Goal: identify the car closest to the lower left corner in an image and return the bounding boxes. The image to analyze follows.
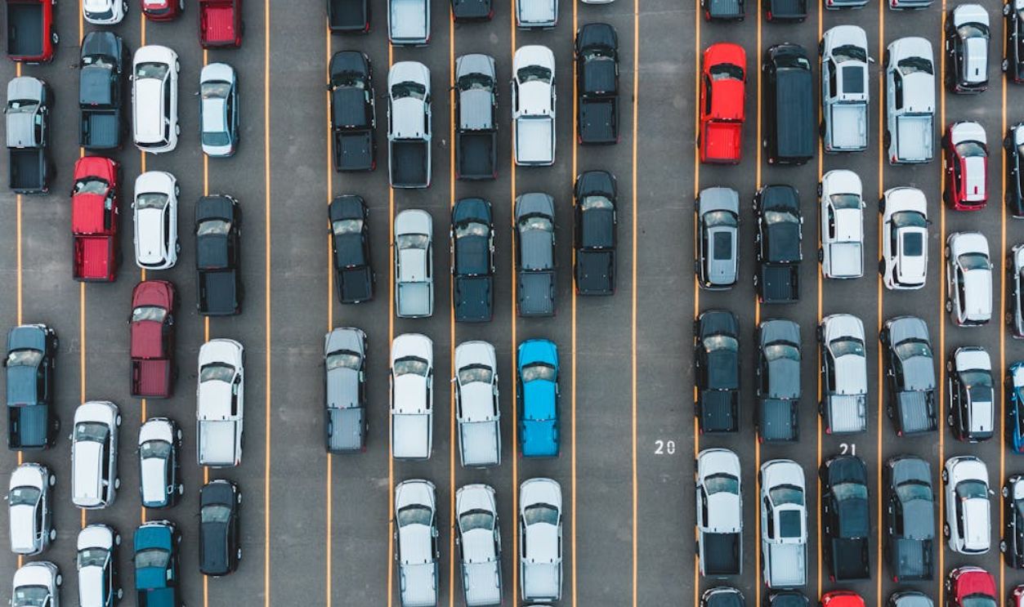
[7,560,59,607]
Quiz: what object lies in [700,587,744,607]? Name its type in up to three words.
vehicle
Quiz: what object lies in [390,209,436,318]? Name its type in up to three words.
truck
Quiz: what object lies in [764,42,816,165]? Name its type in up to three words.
van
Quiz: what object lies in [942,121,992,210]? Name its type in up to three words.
car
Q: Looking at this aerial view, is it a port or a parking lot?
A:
parking lot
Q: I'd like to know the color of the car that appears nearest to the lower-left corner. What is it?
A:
white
